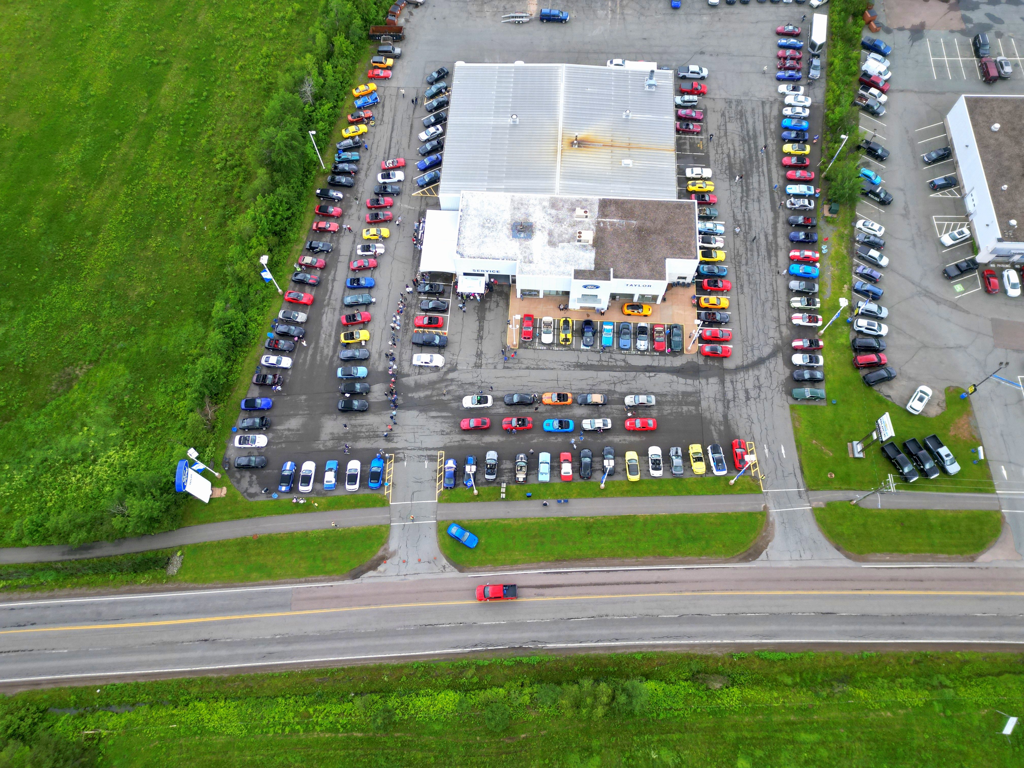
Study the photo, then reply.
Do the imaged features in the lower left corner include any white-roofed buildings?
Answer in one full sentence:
No, in the lower left corner there is no white-roofed building.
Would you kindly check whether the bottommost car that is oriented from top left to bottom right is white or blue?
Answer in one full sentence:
In this view, the bottommost car that is oriented from top left to bottom right is blue.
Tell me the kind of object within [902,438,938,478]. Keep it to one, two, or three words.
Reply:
truck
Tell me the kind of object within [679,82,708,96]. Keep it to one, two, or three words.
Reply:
vehicle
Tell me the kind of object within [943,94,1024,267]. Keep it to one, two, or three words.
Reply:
building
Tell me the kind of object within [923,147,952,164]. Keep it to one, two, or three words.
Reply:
car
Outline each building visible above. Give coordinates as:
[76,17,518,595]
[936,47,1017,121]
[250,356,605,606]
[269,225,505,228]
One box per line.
[438,58,701,313]
[943,94,1024,267]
